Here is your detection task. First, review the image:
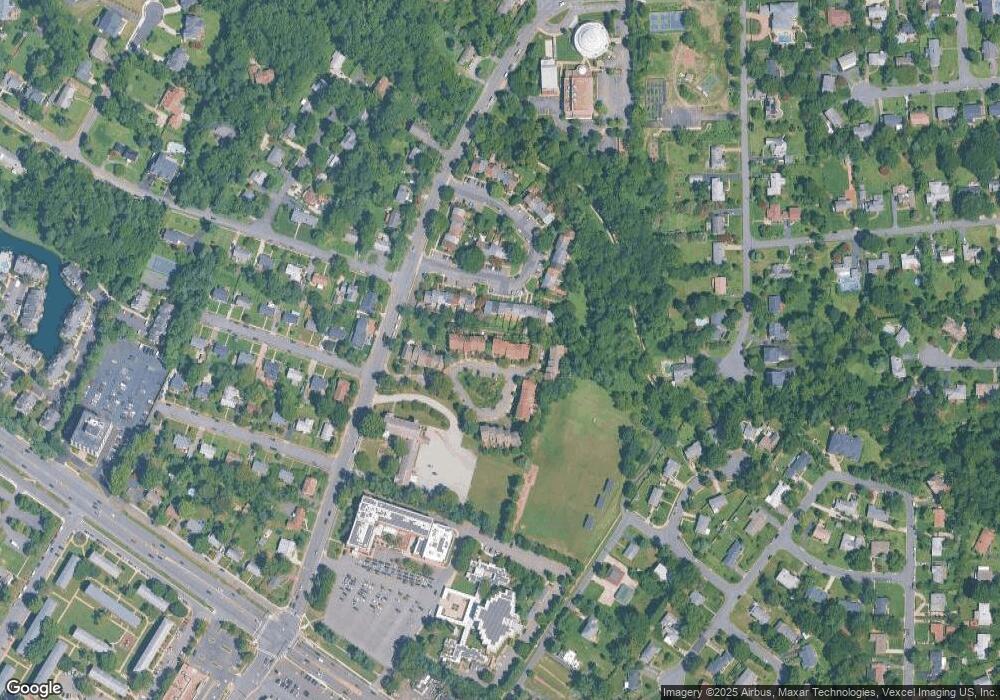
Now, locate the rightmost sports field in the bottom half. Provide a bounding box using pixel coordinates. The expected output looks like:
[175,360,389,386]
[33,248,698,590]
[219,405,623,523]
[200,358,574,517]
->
[513,378,624,561]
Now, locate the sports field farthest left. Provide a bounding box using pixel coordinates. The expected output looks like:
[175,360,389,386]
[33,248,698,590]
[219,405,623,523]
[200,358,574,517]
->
[466,455,521,526]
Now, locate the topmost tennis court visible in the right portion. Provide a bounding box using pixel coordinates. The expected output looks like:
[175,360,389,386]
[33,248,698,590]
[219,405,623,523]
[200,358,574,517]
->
[650,11,685,32]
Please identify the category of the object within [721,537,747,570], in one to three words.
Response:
house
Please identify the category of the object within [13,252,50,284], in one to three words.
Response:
building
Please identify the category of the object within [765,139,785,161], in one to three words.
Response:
house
